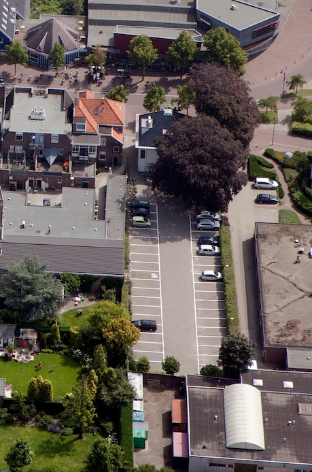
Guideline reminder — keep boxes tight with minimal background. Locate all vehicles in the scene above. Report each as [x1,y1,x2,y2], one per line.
[198,244,221,256]
[256,194,279,206]
[195,219,218,231]
[127,197,151,209]
[131,318,157,331]
[130,216,153,227]
[129,207,152,217]
[253,177,277,190]
[201,270,224,282]
[197,234,220,245]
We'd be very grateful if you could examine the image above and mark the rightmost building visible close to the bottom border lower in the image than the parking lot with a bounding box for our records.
[185,369,312,472]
